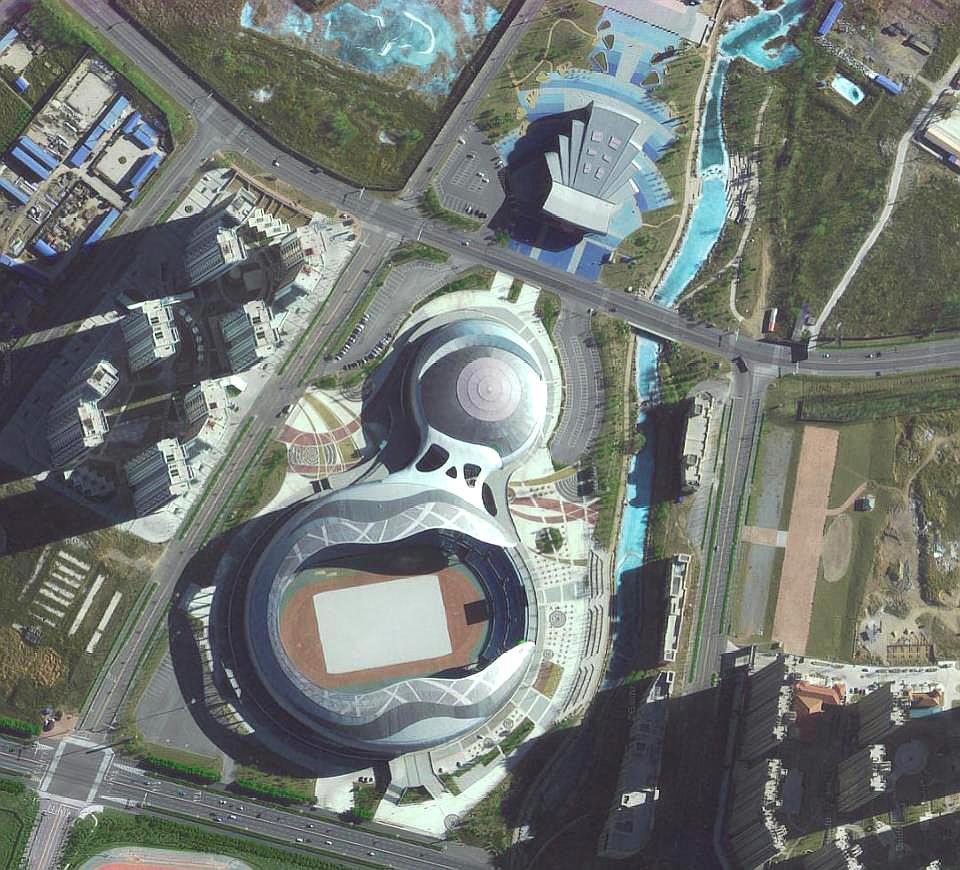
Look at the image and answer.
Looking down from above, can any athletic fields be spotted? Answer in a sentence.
Yes, the photo shows an athletic field.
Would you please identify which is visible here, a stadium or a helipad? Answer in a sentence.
This aerial view contains a stadium.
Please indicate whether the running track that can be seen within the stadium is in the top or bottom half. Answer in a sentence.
It is in the bottom half that the running track that can be seen within the stadium appears.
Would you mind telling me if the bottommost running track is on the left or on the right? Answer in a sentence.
You can find the bottommost running track on the left side of the picture.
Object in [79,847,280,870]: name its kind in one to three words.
running track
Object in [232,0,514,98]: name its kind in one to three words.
pond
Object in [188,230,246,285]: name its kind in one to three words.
building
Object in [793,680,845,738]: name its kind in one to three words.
house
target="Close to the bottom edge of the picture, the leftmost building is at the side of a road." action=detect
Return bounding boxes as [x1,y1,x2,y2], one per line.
[591,672,676,862]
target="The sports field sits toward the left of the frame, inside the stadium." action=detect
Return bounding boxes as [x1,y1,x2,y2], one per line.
[313,575,453,674]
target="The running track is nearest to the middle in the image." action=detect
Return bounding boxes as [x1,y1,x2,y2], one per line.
[280,562,488,687]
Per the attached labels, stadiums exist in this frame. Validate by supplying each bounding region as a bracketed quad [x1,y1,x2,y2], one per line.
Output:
[226,480,538,759]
